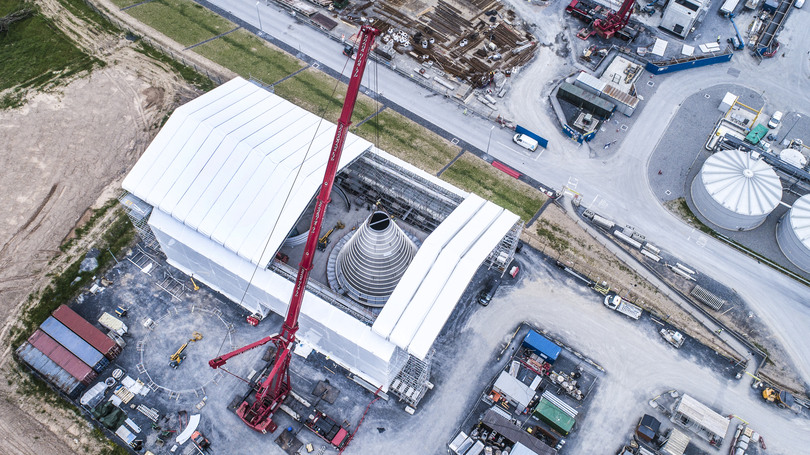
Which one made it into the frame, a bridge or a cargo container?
cargo container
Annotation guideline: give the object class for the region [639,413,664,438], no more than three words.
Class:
shed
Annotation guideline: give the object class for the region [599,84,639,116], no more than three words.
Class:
building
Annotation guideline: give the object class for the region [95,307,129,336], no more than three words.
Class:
truck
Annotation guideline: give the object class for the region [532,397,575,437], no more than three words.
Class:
shipping container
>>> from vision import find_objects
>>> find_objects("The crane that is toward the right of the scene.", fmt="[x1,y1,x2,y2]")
[551,0,640,53]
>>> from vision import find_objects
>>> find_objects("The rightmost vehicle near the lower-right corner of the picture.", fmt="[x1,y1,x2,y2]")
[763,387,795,408]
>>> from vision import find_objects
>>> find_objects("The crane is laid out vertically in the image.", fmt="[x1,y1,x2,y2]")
[202,17,389,449]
